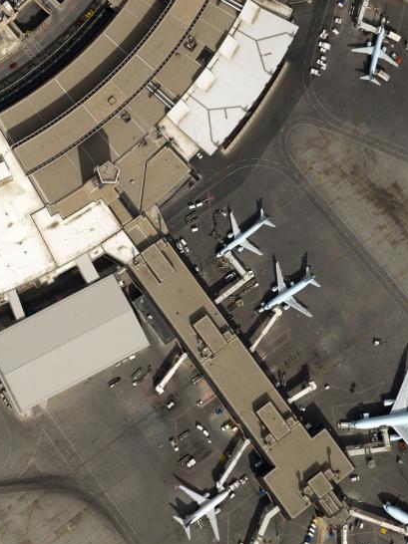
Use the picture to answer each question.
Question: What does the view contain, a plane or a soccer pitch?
plane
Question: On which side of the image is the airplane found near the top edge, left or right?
right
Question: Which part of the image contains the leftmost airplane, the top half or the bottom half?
bottom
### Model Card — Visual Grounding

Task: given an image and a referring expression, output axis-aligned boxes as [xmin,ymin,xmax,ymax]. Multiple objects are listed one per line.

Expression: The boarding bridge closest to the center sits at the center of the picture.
[215,246,251,304]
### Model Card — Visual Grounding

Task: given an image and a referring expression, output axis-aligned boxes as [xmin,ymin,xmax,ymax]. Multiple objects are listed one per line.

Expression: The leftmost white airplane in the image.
[176,486,232,541]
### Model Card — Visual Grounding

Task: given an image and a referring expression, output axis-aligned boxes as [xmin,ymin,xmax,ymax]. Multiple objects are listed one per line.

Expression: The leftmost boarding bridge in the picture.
[151,353,187,395]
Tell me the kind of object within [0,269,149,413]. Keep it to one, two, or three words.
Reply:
building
